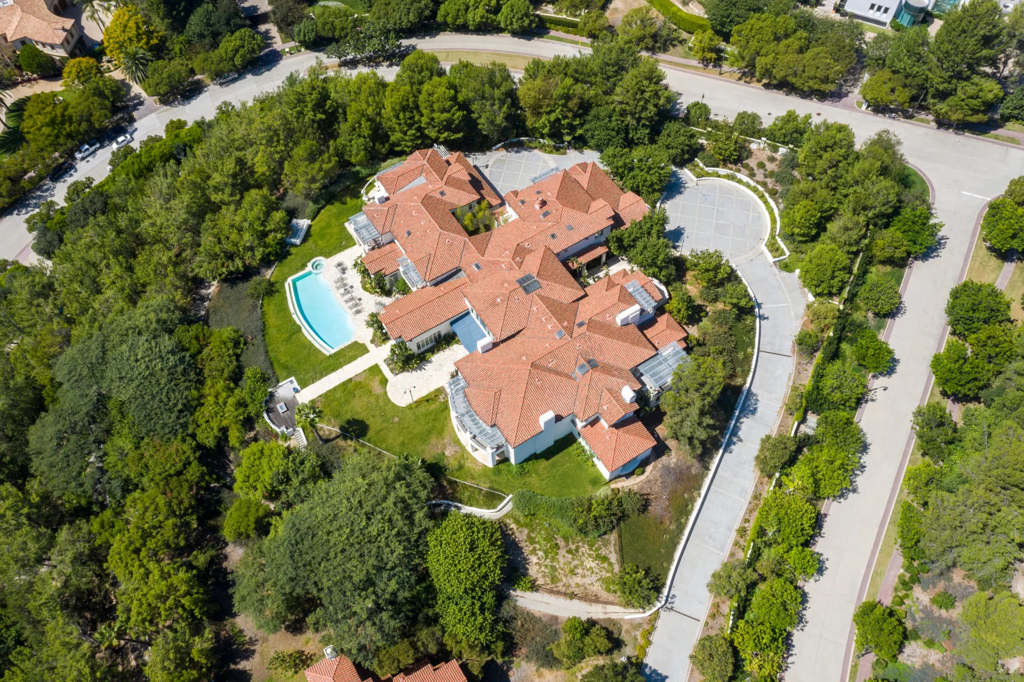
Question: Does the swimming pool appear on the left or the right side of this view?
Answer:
left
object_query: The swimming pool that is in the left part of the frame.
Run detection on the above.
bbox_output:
[281,259,359,357]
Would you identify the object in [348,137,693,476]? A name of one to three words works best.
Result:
house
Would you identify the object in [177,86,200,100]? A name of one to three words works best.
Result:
car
